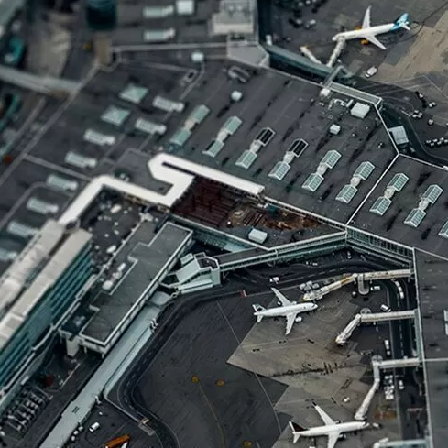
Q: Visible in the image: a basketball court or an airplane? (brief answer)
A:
airplane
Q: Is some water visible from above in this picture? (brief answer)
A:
No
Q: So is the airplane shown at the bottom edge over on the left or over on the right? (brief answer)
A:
right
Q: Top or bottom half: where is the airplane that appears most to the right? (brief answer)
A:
top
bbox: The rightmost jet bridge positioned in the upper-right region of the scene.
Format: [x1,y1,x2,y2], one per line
[323,33,348,70]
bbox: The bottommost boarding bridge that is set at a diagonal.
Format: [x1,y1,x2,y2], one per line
[351,357,421,424]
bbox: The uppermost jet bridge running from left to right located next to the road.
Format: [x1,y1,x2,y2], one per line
[298,265,414,306]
